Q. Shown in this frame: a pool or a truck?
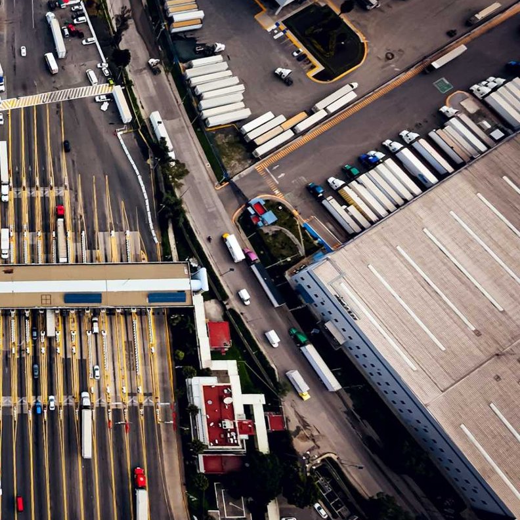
truck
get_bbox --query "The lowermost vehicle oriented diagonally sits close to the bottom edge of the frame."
[313,503,326,519]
